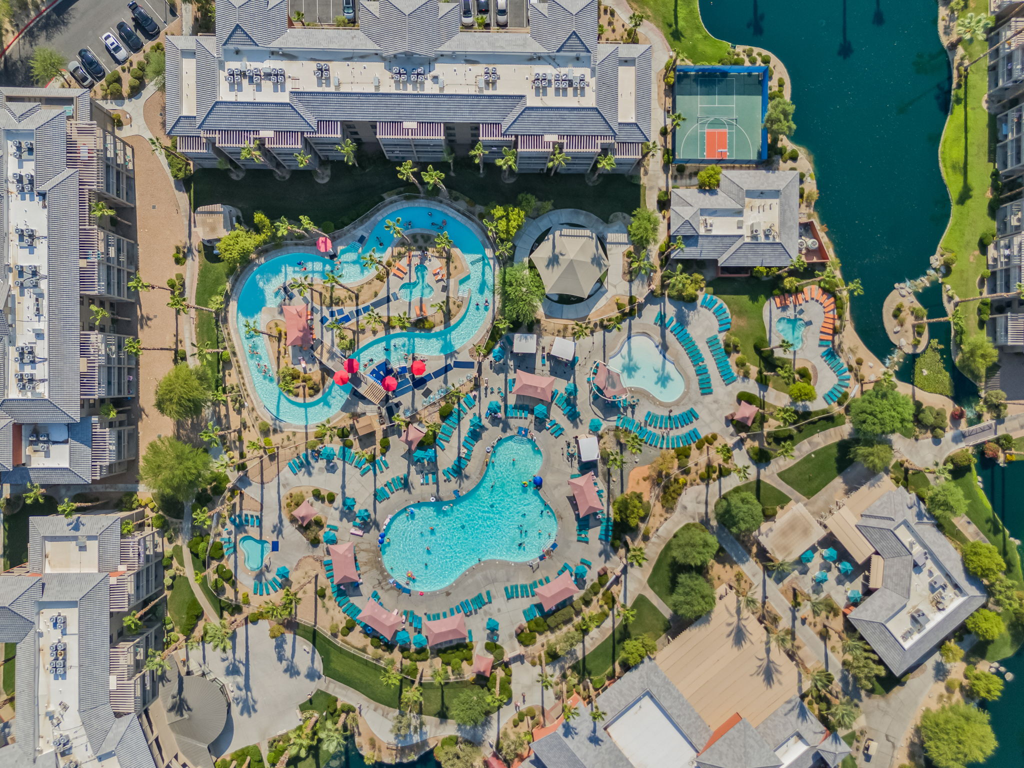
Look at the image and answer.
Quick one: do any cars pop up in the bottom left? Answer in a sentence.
No, no car is visible in the bottom left.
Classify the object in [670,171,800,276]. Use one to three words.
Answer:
building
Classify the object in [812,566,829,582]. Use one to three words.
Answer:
umbrella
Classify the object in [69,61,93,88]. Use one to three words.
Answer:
car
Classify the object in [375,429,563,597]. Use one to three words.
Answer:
swimming pool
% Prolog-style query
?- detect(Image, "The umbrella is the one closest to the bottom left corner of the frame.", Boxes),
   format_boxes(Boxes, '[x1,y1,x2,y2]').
[276,562,292,579]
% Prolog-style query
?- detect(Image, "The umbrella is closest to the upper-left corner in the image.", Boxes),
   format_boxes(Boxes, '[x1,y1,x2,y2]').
[317,238,333,253]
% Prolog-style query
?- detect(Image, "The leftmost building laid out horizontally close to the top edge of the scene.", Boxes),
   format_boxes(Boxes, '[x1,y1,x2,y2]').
[164,0,652,175]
